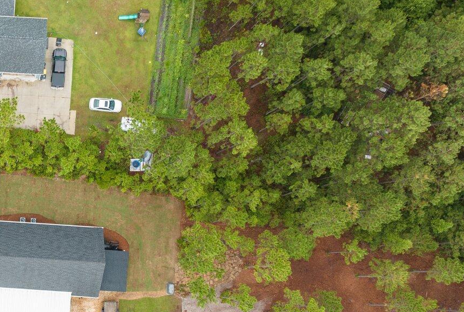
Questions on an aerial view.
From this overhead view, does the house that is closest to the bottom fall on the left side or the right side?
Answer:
left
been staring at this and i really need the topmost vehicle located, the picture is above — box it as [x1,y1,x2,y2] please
[51,48,67,91]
